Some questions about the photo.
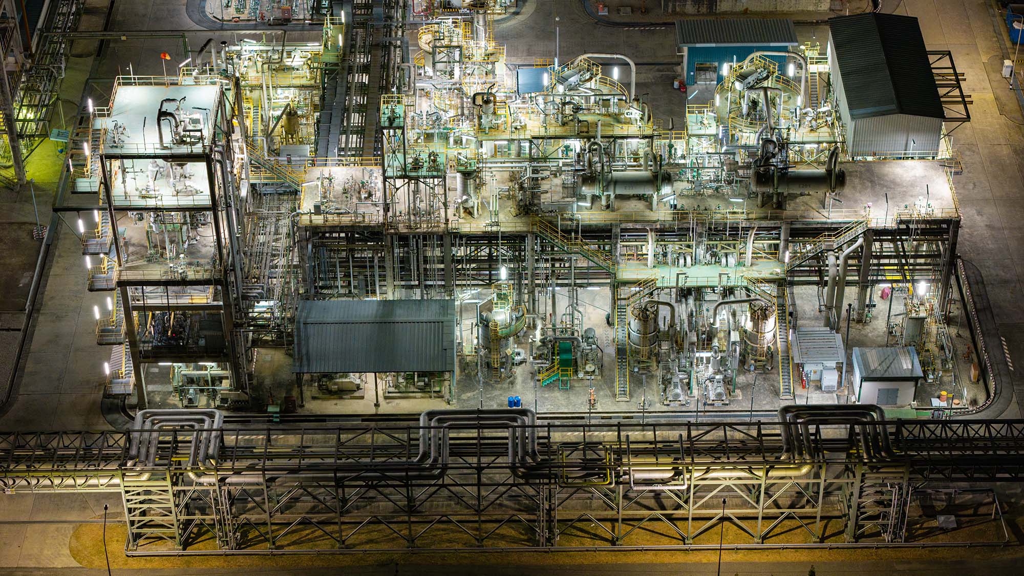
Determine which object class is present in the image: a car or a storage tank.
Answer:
storage tank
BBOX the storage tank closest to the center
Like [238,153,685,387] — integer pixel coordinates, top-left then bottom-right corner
[470,282,523,387]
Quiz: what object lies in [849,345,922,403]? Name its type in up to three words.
shed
